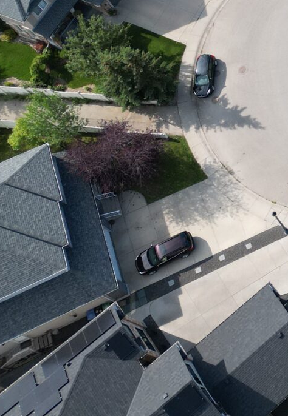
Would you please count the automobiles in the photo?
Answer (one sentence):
The photo contains 2 automobiles.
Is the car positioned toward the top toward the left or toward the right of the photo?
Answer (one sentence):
It is on the right.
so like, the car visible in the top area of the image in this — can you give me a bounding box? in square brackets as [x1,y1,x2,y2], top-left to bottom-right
[189,53,215,98]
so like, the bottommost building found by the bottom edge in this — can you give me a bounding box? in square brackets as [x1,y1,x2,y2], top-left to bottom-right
[0,282,288,416]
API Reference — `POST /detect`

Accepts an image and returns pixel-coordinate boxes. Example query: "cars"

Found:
[189,53,215,98]
[134,235,195,281]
